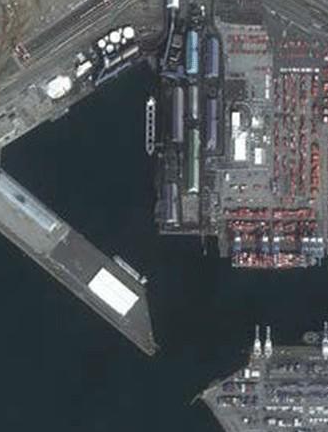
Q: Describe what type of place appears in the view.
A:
port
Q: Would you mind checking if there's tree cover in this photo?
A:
No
